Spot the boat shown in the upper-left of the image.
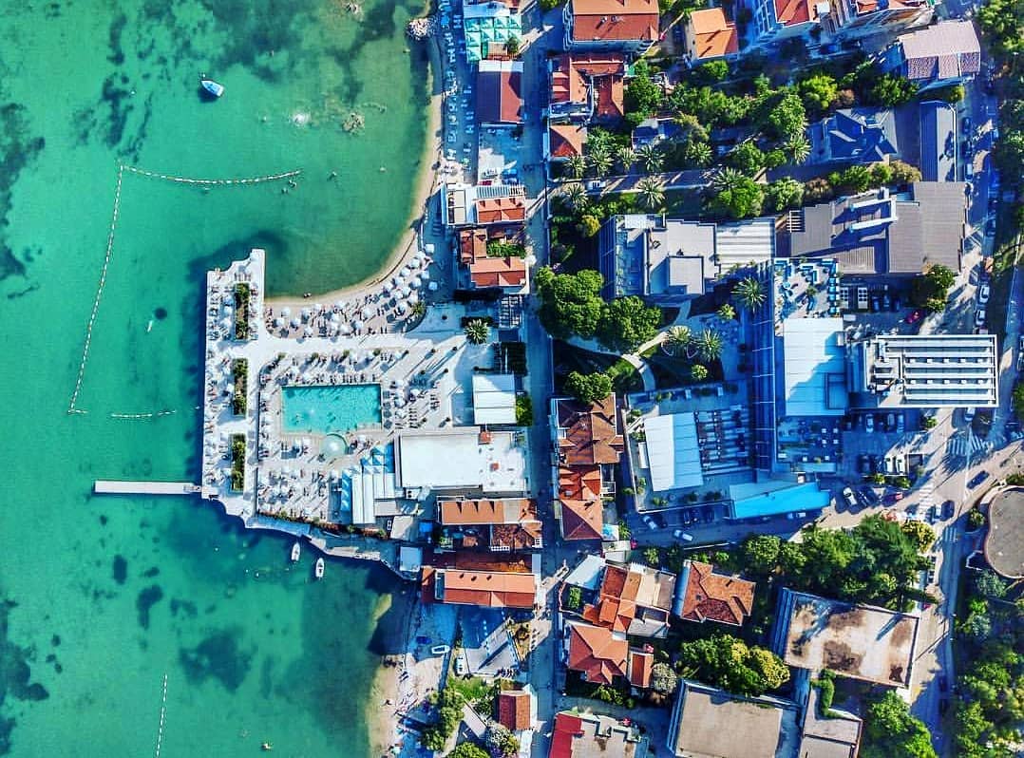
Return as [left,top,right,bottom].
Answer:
[201,80,224,98]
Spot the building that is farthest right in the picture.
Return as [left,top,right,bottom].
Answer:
[967,477,1024,578]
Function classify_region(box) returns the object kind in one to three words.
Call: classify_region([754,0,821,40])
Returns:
house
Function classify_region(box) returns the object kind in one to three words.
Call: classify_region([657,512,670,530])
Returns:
vehicle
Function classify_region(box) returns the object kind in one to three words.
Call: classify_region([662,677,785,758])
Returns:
building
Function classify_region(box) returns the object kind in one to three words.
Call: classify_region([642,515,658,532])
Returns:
car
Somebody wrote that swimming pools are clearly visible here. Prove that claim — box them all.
[280,381,384,436]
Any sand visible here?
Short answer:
Yes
